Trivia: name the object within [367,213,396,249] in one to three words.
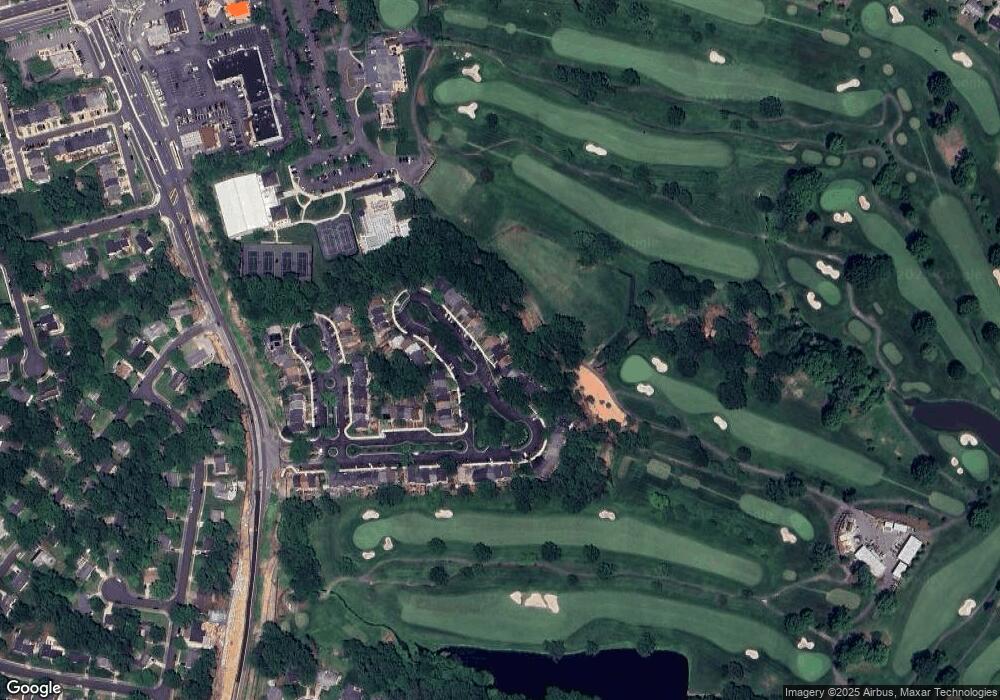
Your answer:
swimming pool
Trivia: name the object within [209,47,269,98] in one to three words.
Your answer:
building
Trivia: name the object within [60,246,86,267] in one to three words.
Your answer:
house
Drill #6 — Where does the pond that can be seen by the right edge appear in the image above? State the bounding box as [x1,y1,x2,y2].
[905,398,1000,456]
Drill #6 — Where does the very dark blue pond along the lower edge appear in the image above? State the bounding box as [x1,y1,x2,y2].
[434,644,688,700]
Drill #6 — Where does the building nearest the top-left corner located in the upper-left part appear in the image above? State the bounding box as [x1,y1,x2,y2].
[49,51,80,69]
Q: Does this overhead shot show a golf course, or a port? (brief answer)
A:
golf course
